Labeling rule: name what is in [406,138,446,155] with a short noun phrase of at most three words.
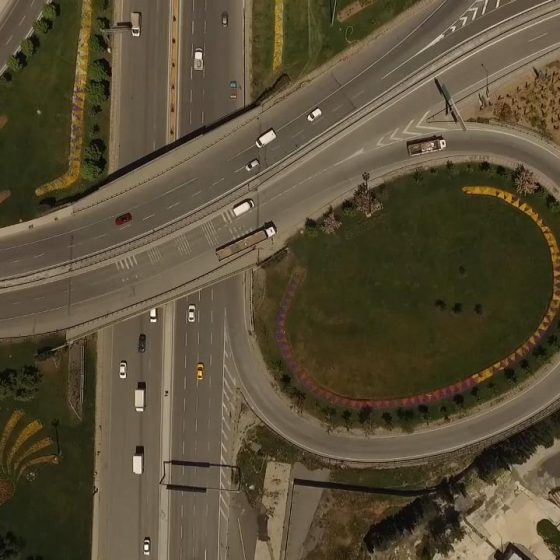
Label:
vehicle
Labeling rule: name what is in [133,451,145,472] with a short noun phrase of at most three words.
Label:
vehicle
